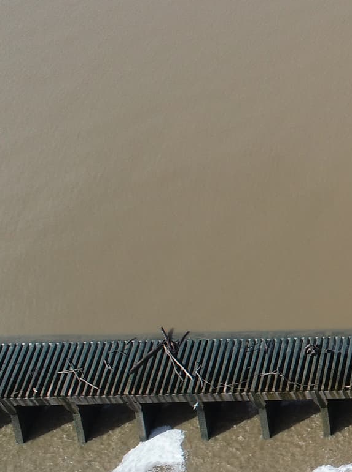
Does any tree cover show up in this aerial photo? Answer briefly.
No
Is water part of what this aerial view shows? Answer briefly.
Yes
